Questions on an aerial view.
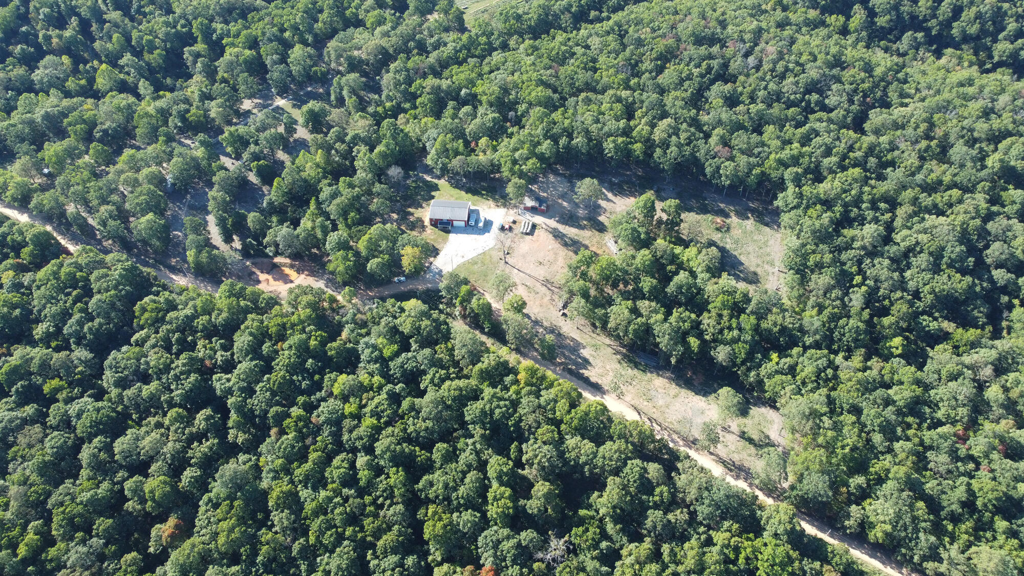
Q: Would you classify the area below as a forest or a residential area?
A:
forest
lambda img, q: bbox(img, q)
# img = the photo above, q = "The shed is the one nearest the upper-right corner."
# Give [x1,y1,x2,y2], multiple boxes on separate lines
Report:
[523,195,549,213]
